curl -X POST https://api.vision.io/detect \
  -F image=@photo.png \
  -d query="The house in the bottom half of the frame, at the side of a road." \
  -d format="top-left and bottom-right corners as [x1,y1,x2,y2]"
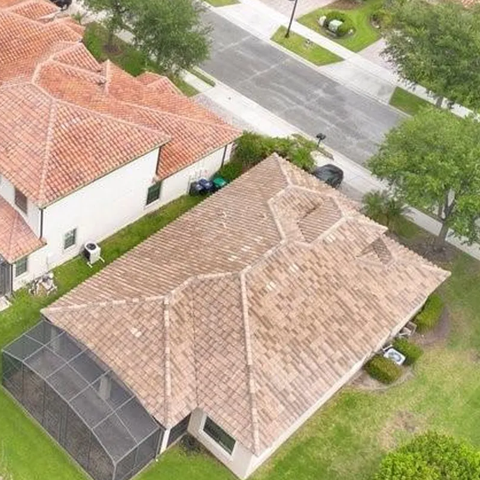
[36,155,451,474]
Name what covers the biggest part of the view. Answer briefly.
buildings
